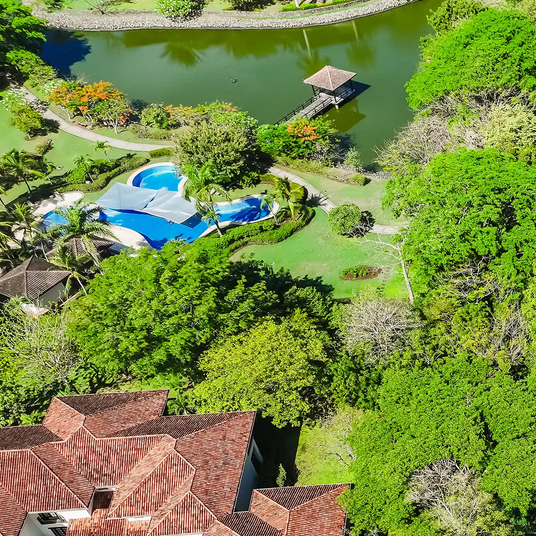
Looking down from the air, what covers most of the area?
trees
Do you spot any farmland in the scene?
No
